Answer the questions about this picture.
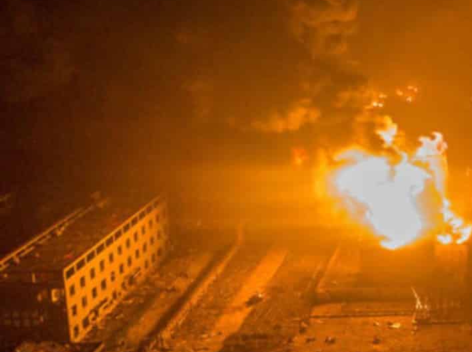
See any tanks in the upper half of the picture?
No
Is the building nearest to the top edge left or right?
left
